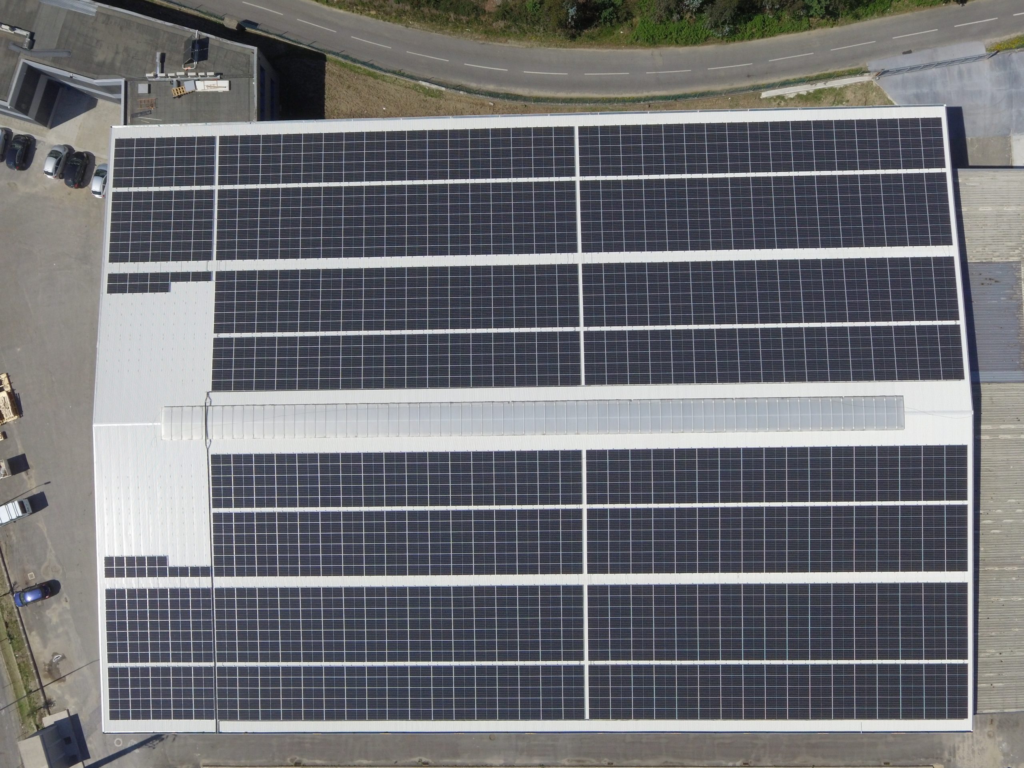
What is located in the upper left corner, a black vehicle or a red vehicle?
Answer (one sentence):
The one visible in the upper left corner is a black vehicle.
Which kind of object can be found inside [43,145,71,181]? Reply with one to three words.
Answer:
car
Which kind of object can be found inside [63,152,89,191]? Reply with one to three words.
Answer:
car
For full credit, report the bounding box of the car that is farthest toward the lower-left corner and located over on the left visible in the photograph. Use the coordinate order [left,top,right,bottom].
[13,581,55,605]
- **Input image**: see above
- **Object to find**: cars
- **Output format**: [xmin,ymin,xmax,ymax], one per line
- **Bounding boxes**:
[63,152,89,191]
[0,128,12,165]
[5,135,31,173]
[43,145,71,181]
[13,581,55,605]
[89,163,107,200]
